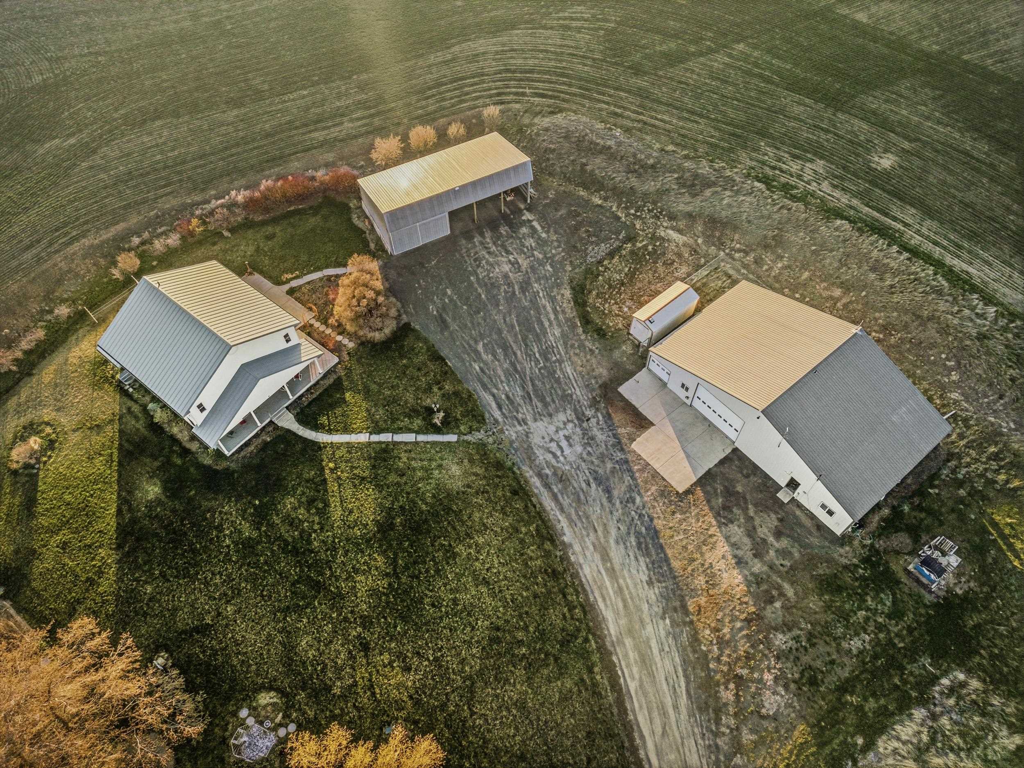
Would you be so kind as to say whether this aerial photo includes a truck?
No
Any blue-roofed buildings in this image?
No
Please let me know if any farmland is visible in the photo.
Yes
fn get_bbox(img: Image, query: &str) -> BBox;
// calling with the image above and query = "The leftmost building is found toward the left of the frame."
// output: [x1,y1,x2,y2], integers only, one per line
[97,260,341,459]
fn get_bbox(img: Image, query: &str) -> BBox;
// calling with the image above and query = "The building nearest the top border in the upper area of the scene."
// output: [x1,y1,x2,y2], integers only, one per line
[358,131,531,255]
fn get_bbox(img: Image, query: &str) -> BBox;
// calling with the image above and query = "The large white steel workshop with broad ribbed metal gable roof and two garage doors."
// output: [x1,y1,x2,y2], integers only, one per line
[646,280,956,535]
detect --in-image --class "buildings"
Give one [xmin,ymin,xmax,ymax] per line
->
[97,260,341,459]
[646,280,956,535]
[358,131,531,255]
